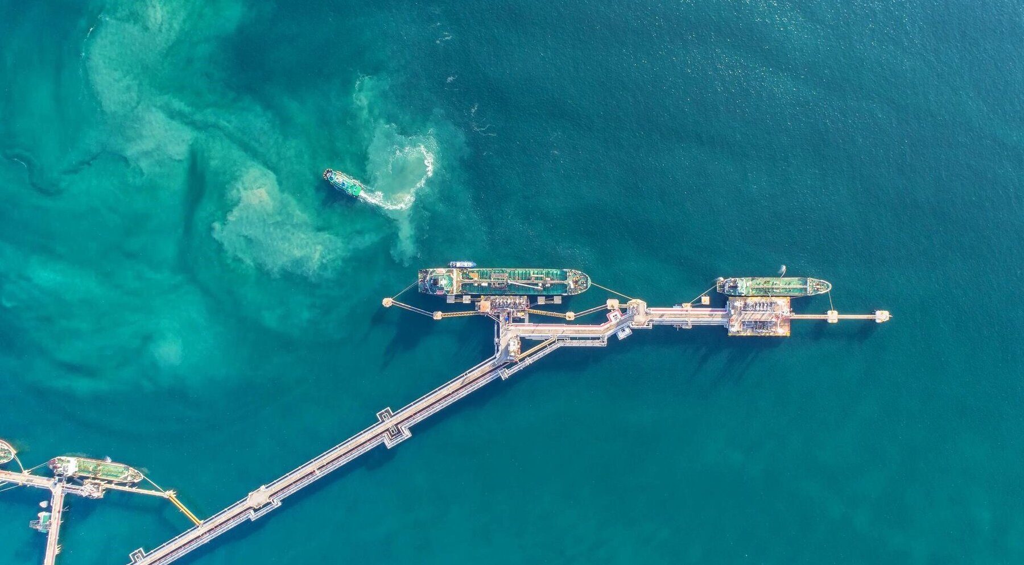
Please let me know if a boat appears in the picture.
Yes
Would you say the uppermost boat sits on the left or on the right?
left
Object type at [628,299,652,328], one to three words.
pier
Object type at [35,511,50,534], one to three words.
boat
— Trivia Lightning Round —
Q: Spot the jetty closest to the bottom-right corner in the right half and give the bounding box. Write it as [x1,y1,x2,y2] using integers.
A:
[648,313,728,325]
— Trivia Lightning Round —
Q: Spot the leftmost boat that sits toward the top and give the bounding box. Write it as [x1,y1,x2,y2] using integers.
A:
[323,170,364,197]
